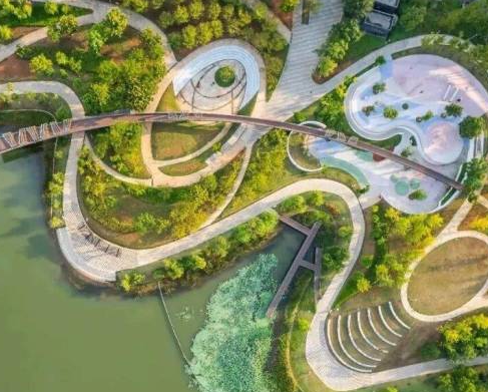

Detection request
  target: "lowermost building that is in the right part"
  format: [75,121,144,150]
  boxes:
[360,9,397,39]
